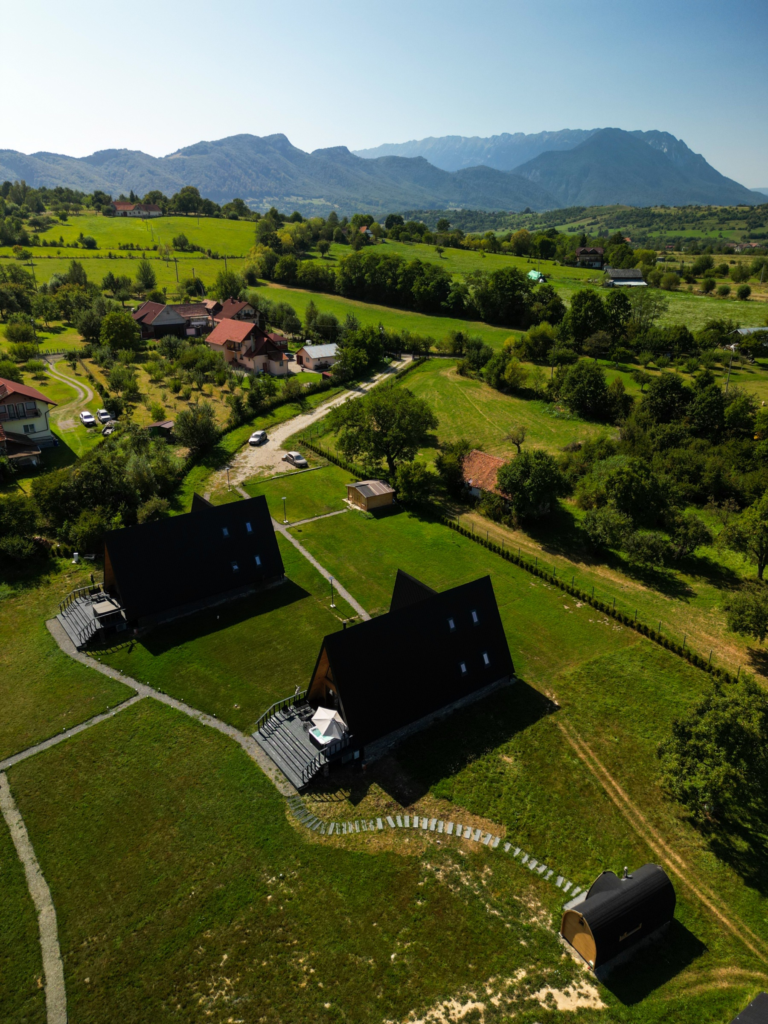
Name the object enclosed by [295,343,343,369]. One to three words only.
building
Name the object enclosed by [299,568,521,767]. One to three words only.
building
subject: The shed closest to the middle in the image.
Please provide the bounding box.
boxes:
[340,478,395,512]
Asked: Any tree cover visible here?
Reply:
Yes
